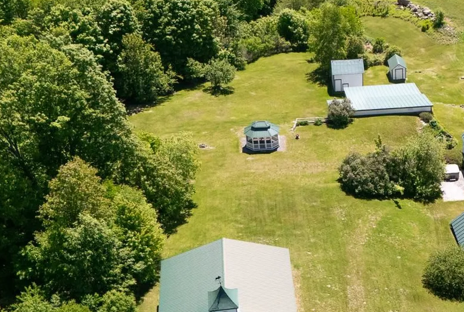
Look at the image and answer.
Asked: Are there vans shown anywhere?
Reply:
No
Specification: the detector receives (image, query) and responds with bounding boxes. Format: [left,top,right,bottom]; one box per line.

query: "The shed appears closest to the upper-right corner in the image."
[388,55,407,79]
